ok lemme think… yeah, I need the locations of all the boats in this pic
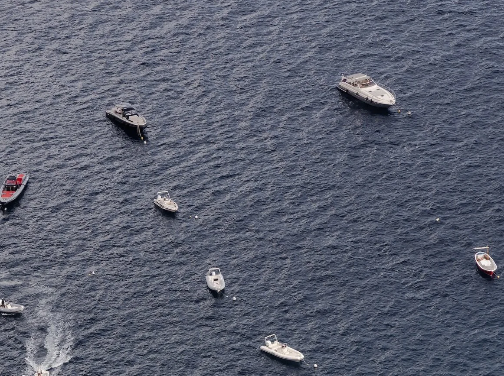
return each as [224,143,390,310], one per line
[152,190,178,211]
[258,335,307,364]
[206,267,227,297]
[106,102,145,137]
[474,244,494,276]
[0,172,30,207]
[0,301,24,311]
[340,73,396,109]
